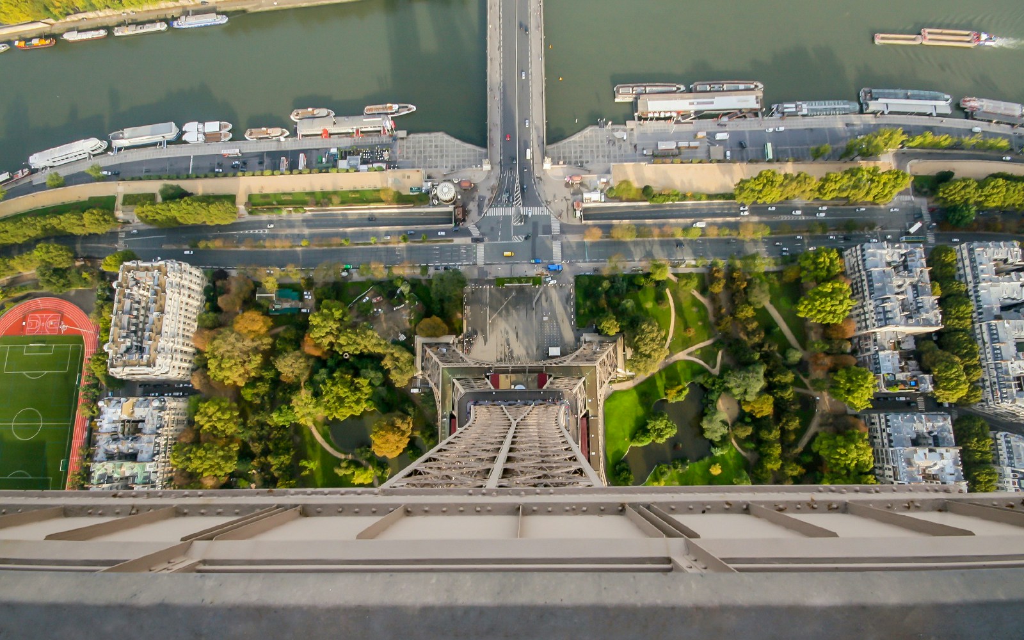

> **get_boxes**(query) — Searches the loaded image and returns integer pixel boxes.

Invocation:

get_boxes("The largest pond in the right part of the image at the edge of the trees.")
[622,382,711,488]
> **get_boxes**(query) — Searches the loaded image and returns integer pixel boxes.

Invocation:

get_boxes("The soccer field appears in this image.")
[0,338,91,492]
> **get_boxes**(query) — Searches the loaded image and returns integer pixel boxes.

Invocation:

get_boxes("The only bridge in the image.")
[487,0,547,178]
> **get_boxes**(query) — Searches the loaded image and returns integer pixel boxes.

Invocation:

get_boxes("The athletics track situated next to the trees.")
[0,301,104,492]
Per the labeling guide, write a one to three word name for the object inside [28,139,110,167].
boat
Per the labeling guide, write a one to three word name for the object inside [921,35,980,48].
ship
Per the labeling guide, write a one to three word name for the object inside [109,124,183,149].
boat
